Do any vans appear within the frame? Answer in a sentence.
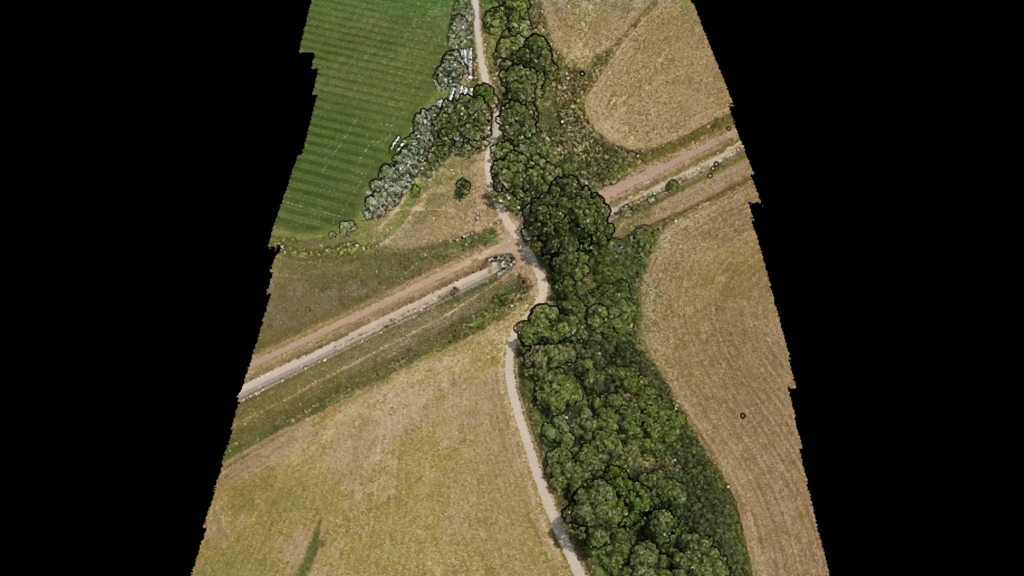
No, no van is visible in the scene.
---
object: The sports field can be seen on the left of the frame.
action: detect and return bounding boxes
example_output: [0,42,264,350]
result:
[272,0,452,238]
